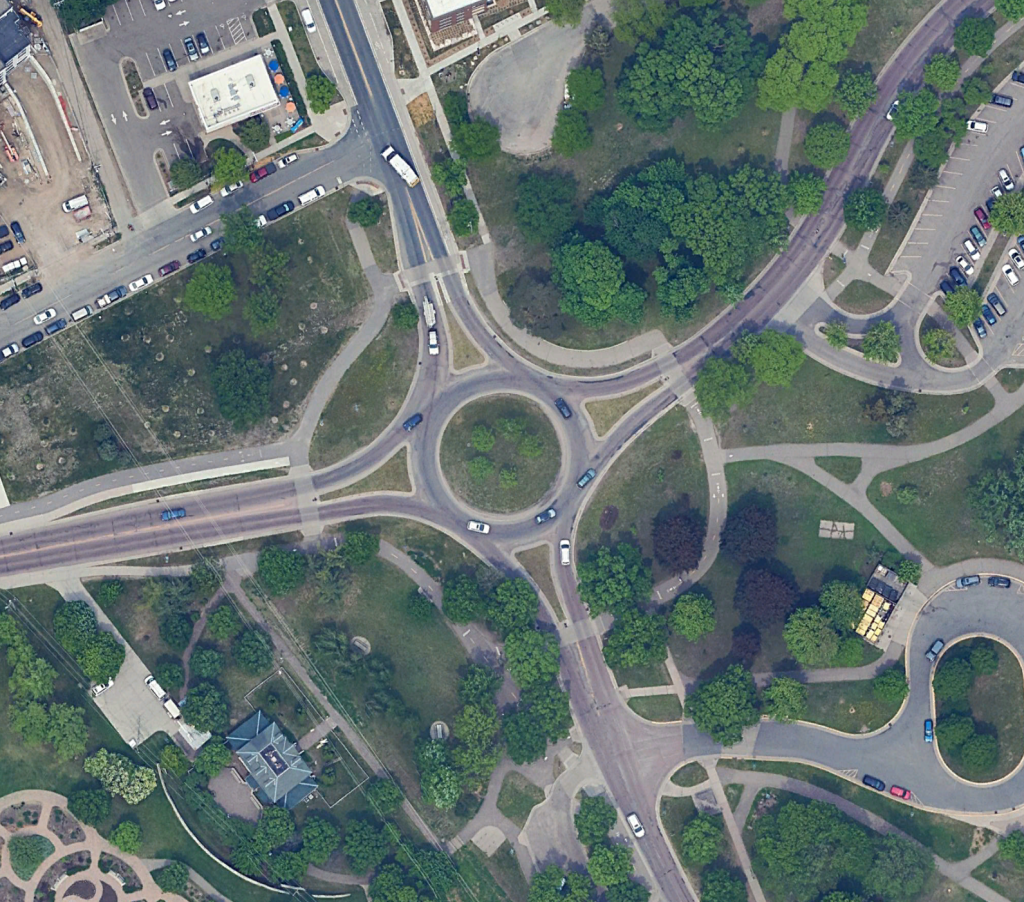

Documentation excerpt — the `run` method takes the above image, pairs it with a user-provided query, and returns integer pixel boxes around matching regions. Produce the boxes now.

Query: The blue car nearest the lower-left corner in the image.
[163,508,185,520]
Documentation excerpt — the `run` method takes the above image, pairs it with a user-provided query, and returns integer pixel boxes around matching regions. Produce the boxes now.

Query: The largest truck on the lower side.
[145,675,169,703]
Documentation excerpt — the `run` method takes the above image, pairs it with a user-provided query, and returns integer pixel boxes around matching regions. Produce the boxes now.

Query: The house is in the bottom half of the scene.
[226,710,318,809]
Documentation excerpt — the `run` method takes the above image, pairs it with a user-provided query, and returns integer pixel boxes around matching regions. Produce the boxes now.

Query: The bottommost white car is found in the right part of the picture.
[627,814,643,836]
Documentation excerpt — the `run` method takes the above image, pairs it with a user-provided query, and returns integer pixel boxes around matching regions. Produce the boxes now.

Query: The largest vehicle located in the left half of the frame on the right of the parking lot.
[378,146,422,190]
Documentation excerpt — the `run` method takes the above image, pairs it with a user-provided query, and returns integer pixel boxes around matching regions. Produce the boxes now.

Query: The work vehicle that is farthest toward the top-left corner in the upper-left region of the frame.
[18,7,47,33]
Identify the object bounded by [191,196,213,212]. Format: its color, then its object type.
white car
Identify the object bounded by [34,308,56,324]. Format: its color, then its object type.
white car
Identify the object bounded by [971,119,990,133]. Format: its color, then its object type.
white vehicle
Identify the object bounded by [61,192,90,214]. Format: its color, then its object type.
white truck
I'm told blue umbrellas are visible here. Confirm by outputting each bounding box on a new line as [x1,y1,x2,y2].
[279,87,289,96]
[269,60,278,70]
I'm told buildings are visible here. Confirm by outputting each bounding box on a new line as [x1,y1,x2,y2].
[226,710,318,809]
[190,53,280,134]
[0,6,29,75]
[419,0,499,31]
